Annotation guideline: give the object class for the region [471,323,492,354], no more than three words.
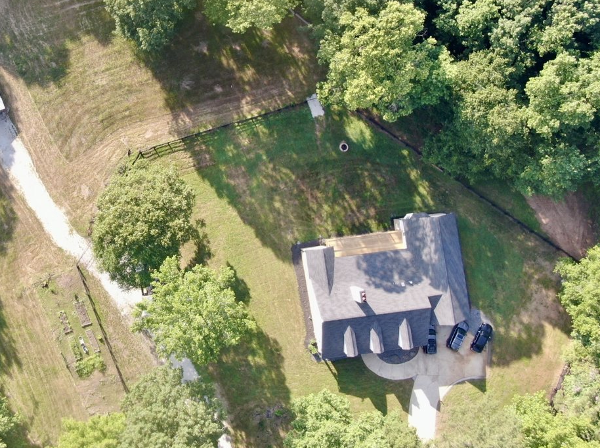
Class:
car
